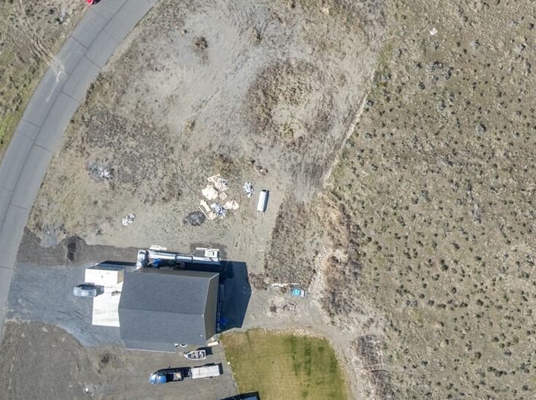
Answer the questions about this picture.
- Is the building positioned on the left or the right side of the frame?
left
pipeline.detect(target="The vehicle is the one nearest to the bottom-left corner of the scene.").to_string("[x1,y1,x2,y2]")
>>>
[73,284,98,298]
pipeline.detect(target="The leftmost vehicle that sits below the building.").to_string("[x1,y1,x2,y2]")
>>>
[150,370,186,387]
